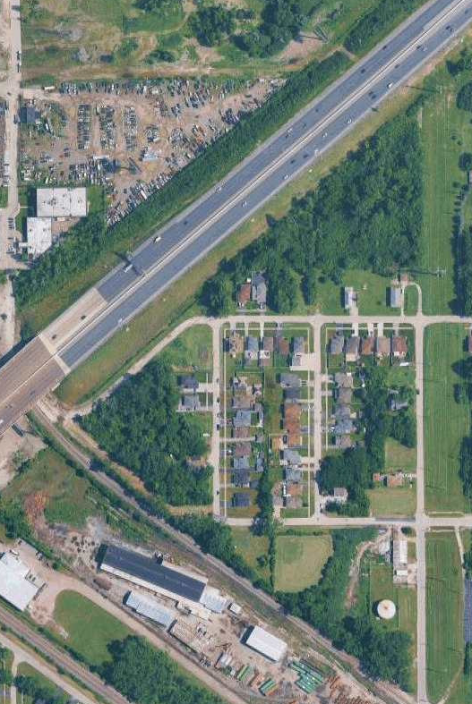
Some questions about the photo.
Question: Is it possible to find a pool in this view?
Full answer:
No, the photo shows no pool.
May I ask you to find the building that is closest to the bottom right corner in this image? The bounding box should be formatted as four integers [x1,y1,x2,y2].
[392,540,407,584]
